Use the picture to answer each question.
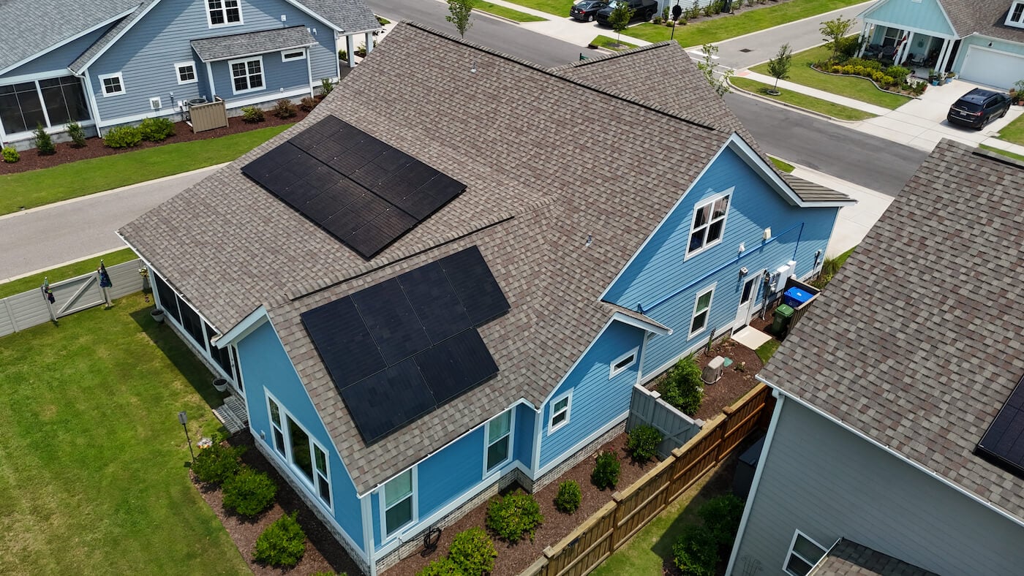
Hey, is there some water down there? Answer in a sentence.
No, the picture contains no water.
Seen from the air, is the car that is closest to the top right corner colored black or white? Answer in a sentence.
In this view, the car that is closest to the top right corner is black.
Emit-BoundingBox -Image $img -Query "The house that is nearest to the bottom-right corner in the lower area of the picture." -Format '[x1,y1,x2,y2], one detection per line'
[724,136,1024,576]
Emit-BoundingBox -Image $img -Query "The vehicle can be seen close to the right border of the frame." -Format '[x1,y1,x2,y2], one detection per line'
[948,85,1013,126]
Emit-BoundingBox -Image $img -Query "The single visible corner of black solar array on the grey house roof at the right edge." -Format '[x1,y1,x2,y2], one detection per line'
[974,374,1024,479]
